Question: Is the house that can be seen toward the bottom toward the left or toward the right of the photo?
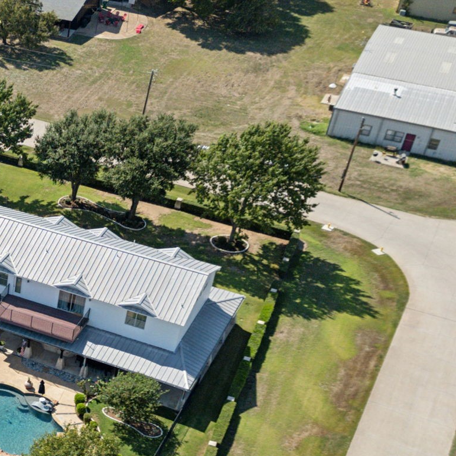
left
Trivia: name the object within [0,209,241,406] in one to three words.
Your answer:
house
